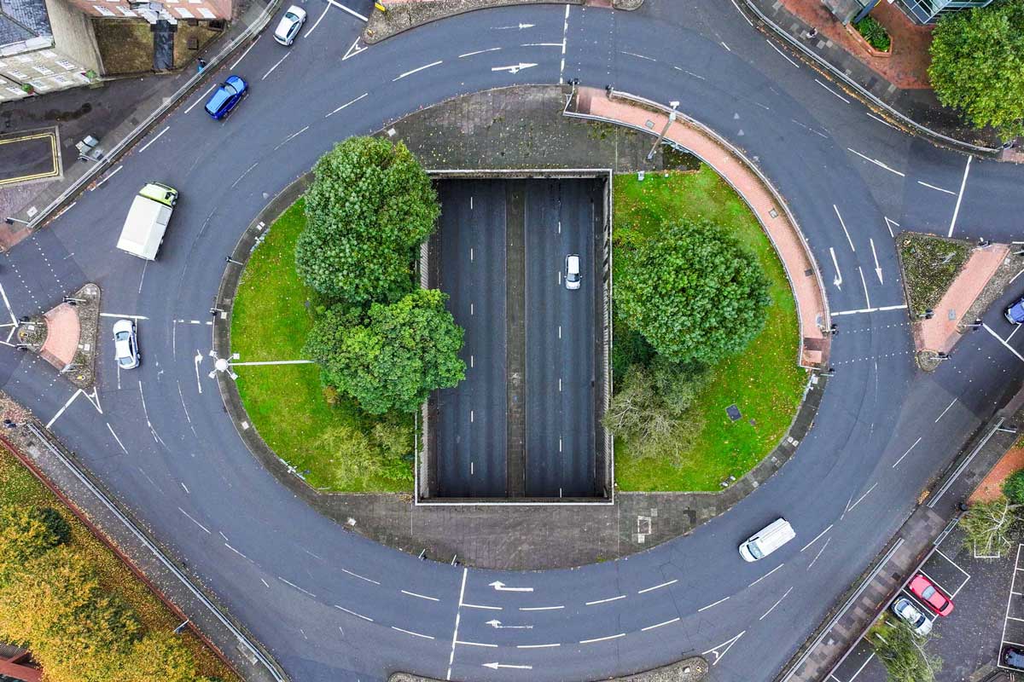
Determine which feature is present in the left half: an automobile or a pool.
automobile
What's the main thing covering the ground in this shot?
paved ground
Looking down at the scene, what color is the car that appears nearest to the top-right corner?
blue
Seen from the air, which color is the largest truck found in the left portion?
white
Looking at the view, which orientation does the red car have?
at an angle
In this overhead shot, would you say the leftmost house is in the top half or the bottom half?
top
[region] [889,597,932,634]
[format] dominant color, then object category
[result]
white car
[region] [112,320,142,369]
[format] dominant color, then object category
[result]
white car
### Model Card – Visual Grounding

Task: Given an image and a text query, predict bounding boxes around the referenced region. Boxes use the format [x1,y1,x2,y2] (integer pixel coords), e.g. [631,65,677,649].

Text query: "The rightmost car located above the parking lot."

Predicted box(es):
[1003,295,1024,325]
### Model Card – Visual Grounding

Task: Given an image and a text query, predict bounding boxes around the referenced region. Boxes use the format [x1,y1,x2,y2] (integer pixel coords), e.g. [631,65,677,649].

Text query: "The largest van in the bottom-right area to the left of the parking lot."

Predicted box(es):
[740,519,798,562]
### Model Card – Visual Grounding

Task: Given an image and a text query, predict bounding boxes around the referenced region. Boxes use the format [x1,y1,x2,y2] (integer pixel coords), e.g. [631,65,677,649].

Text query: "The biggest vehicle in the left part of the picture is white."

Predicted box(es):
[120,185,182,260]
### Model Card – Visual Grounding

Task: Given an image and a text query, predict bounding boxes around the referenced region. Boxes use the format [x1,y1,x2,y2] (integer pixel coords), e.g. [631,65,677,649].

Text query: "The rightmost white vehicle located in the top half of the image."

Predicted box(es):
[563,254,582,290]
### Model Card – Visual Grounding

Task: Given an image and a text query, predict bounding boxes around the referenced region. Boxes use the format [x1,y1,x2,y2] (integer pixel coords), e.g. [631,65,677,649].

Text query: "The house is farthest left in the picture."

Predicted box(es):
[0,0,104,103]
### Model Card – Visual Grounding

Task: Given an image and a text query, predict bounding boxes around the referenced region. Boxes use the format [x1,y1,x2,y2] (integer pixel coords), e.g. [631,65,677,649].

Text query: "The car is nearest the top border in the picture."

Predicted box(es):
[275,7,307,45]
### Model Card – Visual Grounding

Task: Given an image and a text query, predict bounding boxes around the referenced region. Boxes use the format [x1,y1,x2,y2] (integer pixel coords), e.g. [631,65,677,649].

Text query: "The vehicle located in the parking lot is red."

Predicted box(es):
[908,575,955,617]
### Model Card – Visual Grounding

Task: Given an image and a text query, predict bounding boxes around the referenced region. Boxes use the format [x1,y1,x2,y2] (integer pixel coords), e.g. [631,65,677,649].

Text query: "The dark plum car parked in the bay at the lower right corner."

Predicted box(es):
[1002,646,1024,673]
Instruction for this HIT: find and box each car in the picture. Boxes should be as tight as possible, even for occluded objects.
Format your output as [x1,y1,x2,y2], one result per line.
[205,76,247,122]
[1002,646,1024,673]
[908,575,955,617]
[889,597,932,634]
[275,7,307,45]
[563,254,582,290]
[1003,295,1024,325]
[112,320,142,369]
